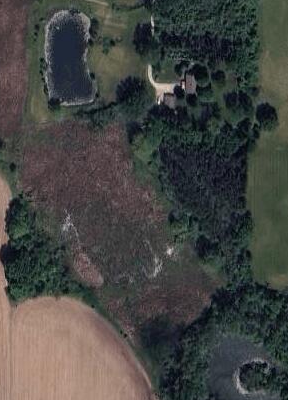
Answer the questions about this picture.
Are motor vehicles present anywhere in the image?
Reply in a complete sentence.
No, there isn't any motor vehicle down there.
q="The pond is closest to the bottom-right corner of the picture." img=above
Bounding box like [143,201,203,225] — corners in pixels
[207,333,286,400]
